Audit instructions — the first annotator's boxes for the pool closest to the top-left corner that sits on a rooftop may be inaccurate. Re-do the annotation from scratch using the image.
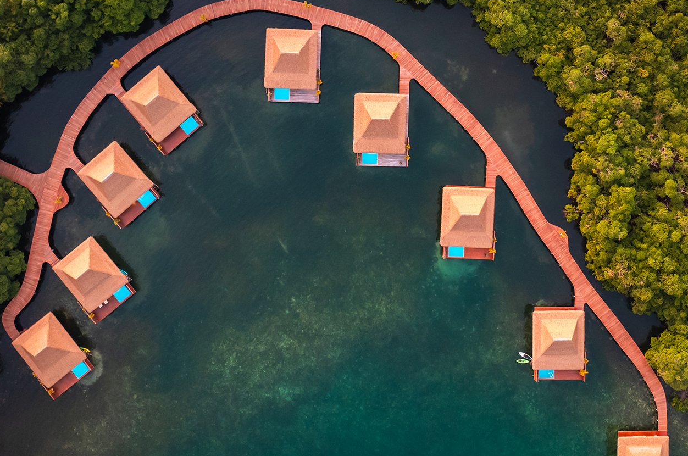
[179,117,199,135]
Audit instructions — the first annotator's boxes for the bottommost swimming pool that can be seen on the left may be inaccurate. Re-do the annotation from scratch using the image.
[72,359,90,377]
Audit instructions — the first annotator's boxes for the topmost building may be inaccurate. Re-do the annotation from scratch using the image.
[263,29,322,104]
